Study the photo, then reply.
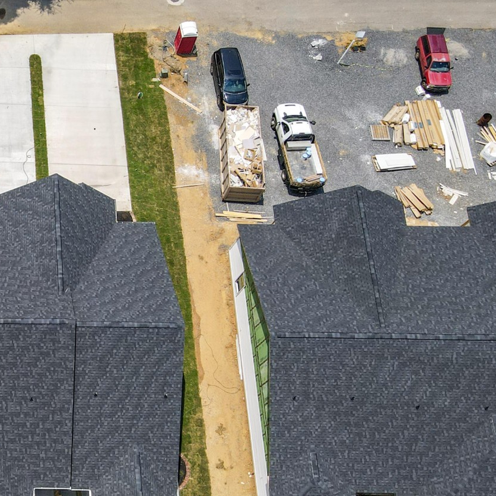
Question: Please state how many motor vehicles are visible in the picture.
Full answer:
My tally gives 3 motor vehicles in this view.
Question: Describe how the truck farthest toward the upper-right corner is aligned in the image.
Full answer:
From this overhead view, the truck farthest toward the upper-right corner appears to run from top to bottom.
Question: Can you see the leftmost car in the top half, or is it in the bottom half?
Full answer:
The top half of the photo is where the leftmost car is.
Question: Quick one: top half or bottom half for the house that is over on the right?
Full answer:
The house that is over on the right sits in the bottom half of the picture.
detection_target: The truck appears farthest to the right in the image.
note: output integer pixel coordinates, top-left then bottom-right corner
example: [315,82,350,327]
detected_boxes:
[415,24,452,96]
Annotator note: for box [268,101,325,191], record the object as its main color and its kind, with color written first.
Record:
white truck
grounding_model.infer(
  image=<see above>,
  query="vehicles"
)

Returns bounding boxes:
[415,24,452,96]
[211,49,250,107]
[268,101,325,191]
